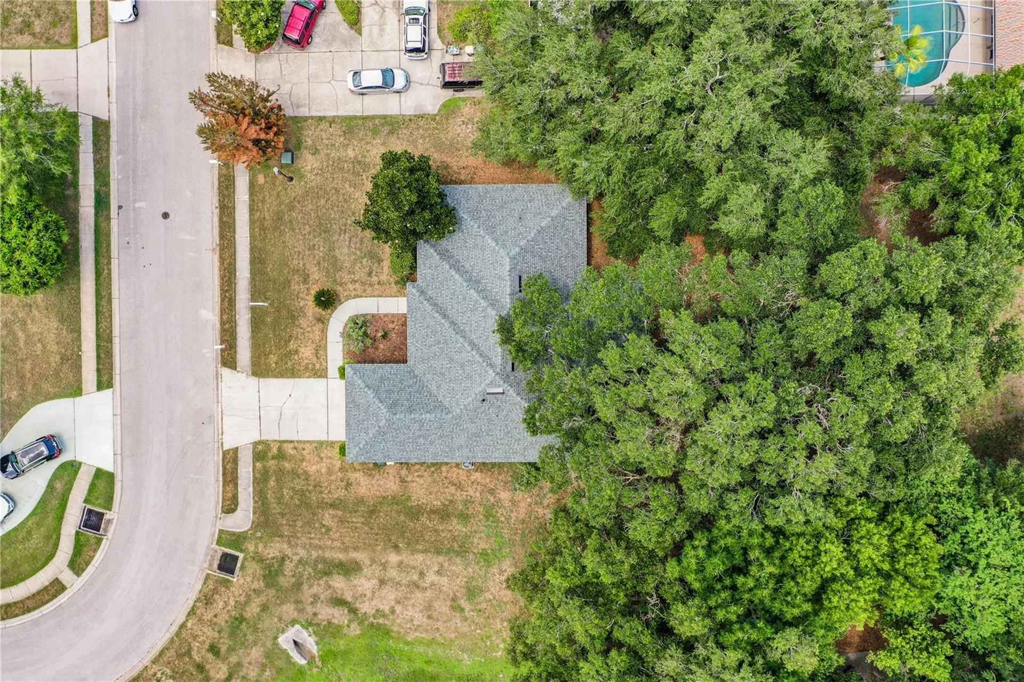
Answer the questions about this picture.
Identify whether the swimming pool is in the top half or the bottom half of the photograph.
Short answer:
top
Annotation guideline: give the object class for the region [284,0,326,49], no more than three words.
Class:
car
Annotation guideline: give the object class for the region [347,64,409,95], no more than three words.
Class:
car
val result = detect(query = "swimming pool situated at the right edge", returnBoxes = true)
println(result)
[888,0,978,87]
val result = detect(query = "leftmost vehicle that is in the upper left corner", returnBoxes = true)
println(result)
[110,0,139,23]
